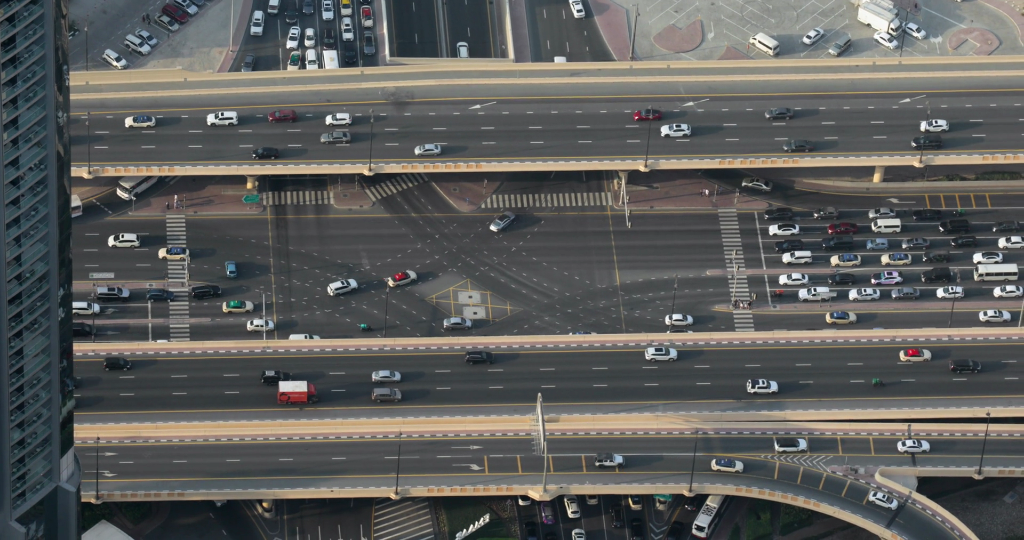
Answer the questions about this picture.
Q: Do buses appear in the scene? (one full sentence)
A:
Yes, this view includes a bus.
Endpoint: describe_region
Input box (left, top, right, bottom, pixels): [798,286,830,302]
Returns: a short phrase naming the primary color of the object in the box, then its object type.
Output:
white car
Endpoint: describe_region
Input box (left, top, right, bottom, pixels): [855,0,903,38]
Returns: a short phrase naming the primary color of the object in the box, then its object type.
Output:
white truck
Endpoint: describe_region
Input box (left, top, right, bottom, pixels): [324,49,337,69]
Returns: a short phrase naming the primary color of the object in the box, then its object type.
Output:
white vehicle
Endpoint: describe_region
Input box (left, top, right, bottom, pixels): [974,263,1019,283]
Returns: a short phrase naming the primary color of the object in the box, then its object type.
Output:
white vehicle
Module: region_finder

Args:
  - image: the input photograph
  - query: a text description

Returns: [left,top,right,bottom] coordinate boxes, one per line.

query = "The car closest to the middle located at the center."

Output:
[489,212,516,231]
